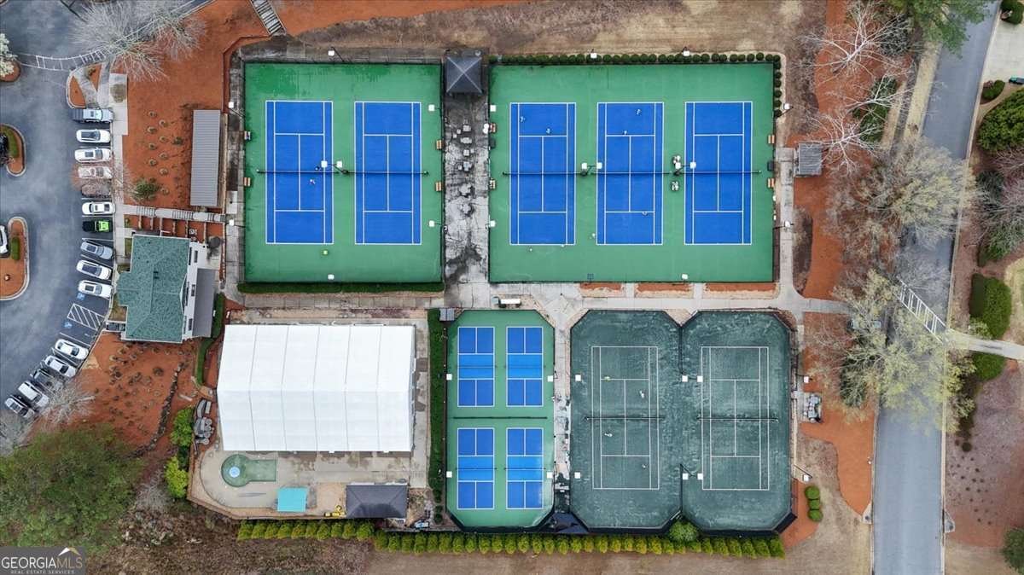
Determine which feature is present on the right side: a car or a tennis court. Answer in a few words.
tennis court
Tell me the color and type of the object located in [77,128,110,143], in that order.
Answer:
white car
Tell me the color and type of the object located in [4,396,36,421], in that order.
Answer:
gray car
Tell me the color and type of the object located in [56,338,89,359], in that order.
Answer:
white car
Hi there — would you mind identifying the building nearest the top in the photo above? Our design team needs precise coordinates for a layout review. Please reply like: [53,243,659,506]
[446,52,483,96]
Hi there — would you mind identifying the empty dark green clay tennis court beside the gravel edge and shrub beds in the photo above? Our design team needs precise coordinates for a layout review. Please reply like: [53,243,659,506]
[681,312,792,529]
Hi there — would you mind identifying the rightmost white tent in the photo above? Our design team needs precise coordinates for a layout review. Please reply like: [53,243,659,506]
[215,323,418,451]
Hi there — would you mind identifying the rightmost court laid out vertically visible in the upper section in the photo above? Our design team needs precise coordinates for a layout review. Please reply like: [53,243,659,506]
[674,65,773,282]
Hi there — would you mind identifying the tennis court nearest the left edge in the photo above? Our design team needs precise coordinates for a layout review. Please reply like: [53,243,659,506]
[245,64,344,282]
